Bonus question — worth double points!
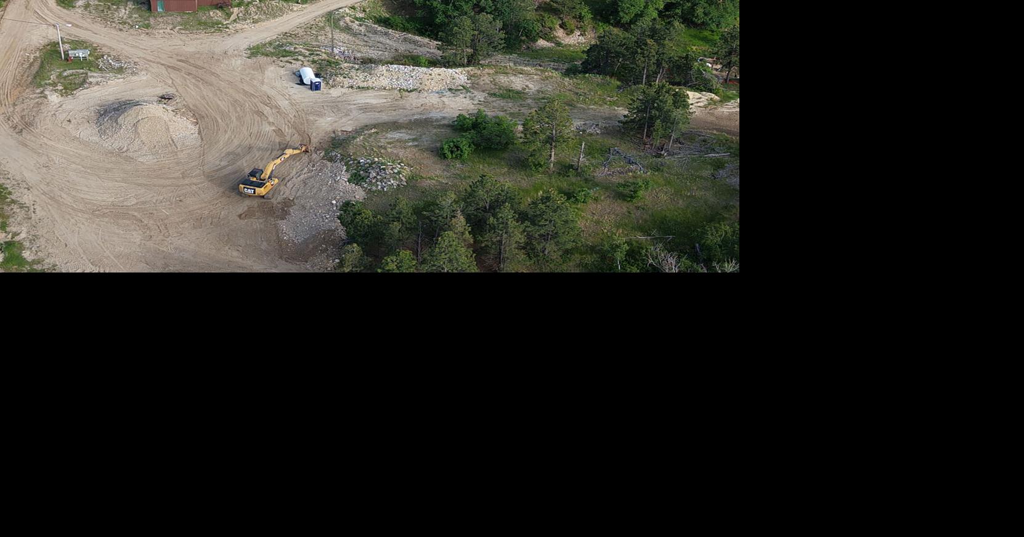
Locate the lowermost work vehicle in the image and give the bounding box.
[237,140,310,199]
